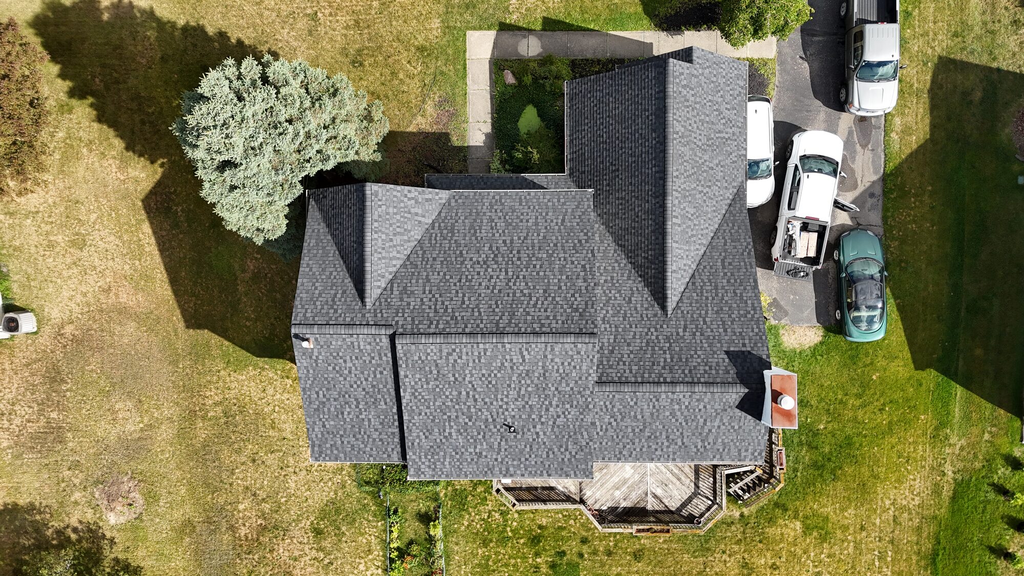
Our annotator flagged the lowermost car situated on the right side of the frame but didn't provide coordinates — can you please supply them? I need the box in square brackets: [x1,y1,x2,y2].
[833,228,895,343]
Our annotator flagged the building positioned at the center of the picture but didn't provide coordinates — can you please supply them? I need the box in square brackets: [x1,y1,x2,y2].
[290,45,797,482]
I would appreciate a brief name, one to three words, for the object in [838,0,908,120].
truck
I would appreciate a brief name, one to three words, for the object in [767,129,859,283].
truck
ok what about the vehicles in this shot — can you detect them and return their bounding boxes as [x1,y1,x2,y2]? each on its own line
[833,228,895,343]
[745,97,783,207]
[838,0,908,120]
[767,129,859,283]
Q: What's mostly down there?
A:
grass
